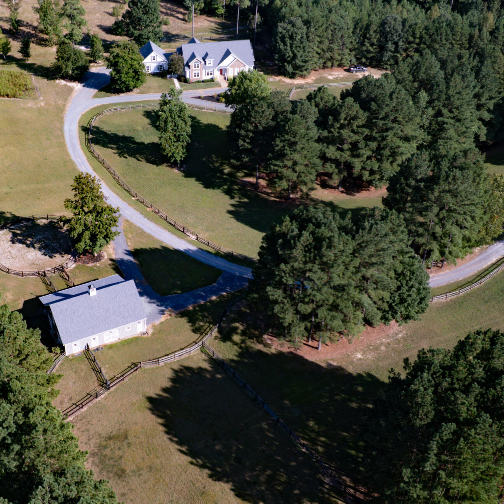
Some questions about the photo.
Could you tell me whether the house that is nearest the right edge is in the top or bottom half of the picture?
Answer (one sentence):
The house that is nearest the right edge sits in the top half of the picture.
